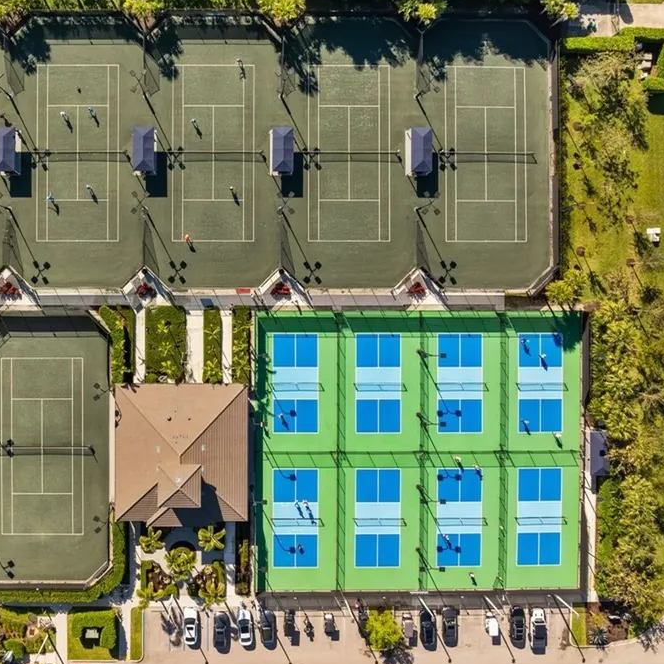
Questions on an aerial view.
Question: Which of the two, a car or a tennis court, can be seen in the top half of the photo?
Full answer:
Looking in the top half of the photo, you will find a tennis court.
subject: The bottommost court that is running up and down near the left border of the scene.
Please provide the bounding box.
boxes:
[0,312,110,583]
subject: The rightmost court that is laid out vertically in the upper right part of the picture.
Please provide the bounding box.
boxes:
[417,19,549,288]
